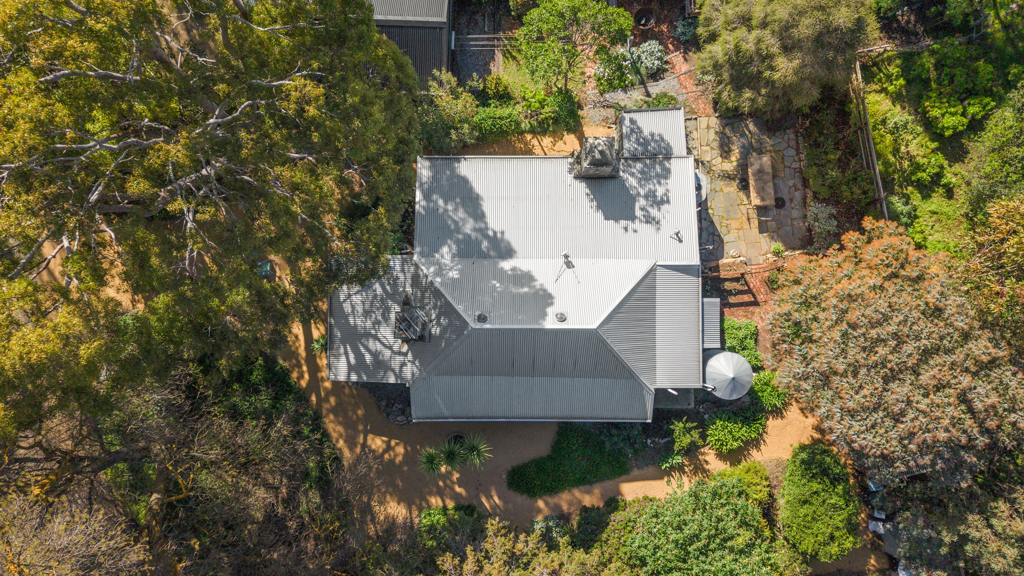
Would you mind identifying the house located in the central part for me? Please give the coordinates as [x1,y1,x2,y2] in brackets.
[328,104,720,425]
